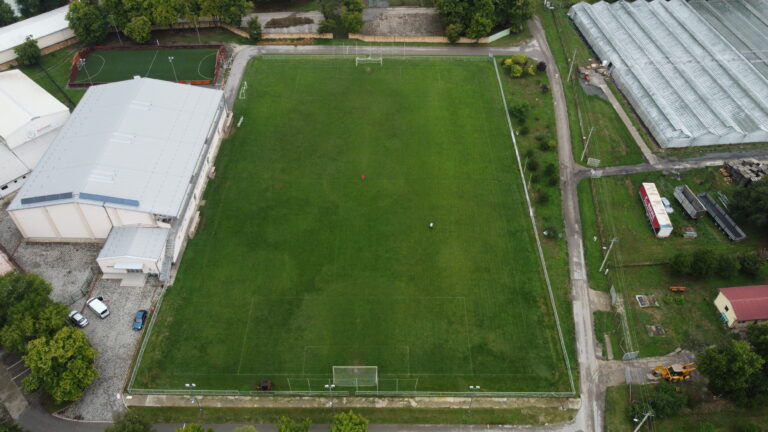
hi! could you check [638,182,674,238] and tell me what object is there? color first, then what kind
white trailer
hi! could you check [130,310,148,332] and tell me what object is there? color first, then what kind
blue car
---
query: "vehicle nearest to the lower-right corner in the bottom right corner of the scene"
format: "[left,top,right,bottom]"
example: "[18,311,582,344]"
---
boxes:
[646,363,697,382]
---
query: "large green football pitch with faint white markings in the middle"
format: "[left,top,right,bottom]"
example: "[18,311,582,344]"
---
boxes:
[132,55,574,394]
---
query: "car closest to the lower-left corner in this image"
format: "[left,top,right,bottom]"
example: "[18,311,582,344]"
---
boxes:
[67,310,88,329]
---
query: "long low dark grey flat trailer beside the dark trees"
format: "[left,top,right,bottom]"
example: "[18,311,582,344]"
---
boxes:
[695,192,746,241]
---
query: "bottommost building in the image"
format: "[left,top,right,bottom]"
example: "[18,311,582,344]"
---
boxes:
[713,286,768,330]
